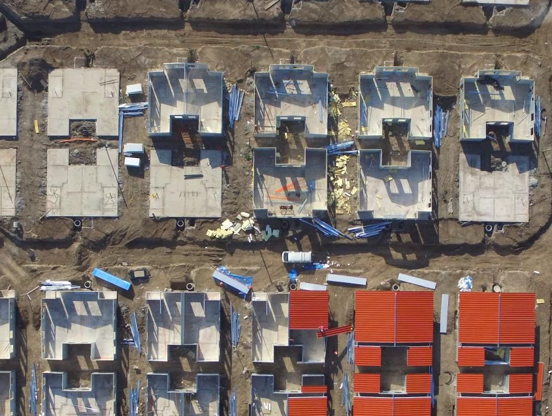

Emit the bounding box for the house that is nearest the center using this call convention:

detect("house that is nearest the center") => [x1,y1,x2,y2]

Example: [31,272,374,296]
[254,147,325,218]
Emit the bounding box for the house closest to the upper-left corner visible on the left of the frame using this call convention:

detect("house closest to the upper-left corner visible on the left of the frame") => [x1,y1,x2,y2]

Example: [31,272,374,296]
[148,63,220,138]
